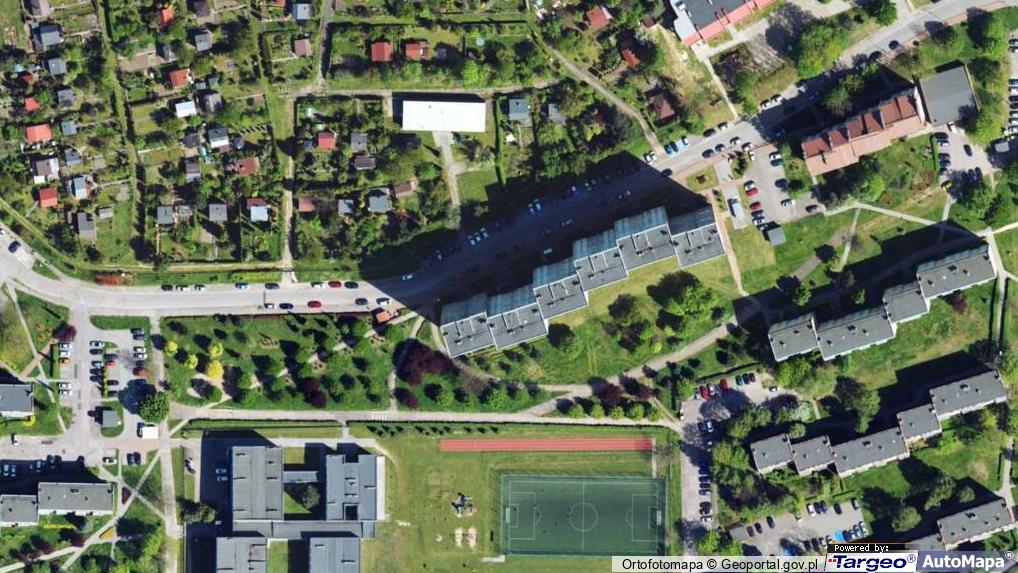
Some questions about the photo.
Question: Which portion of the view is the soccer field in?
bottom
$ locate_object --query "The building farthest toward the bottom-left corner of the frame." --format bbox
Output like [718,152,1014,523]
[0,477,115,525]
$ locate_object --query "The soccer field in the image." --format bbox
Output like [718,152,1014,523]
[501,476,666,556]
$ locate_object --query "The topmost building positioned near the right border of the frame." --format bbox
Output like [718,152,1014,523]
[919,62,979,125]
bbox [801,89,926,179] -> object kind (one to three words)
house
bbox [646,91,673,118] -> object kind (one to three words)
shed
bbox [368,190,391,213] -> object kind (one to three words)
shed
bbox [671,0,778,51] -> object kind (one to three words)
building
